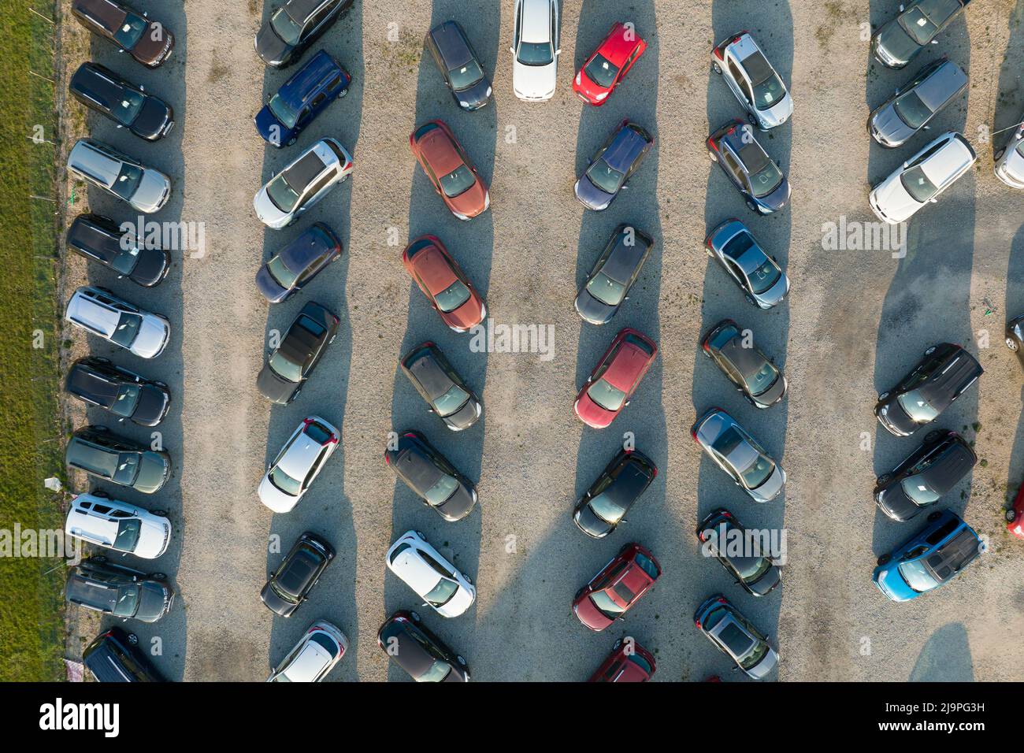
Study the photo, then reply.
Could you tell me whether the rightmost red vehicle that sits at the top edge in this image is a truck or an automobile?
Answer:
automobile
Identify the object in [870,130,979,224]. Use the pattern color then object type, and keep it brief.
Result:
white car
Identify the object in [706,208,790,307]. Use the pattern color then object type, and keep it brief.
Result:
blue car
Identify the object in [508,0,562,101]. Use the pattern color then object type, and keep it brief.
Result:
white car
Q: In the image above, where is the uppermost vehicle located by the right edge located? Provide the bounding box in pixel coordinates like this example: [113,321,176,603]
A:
[870,0,978,73]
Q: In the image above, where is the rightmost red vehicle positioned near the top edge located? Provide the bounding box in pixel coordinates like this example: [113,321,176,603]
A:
[573,19,647,108]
